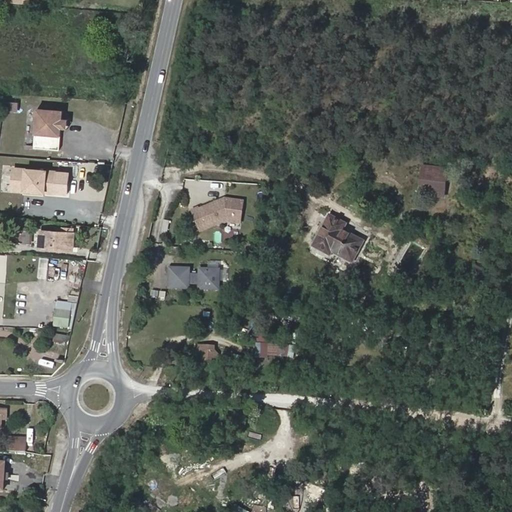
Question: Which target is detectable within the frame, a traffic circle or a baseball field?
traffic circle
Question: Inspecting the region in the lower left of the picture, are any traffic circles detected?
Yes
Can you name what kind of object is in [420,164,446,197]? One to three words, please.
shed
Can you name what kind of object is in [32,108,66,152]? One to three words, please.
house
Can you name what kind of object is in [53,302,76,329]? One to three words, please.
shed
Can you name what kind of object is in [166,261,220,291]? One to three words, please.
house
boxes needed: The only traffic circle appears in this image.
[47,354,153,438]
